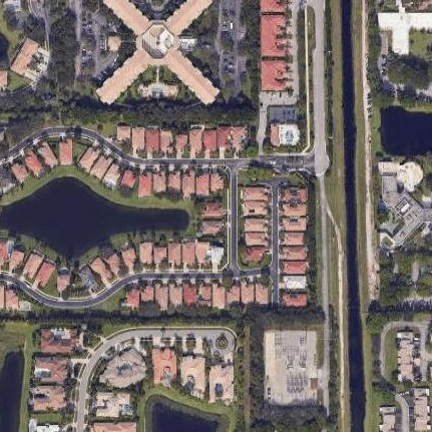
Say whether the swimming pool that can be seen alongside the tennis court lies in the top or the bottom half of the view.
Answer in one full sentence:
It is in the top half that the swimming pool that can be seen alongside the tennis court appears.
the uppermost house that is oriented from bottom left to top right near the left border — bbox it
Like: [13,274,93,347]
[9,37,40,75]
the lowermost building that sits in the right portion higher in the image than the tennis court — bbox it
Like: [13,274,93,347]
[261,60,285,90]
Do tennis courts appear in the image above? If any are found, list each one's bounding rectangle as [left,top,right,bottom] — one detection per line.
[268,106,296,122]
